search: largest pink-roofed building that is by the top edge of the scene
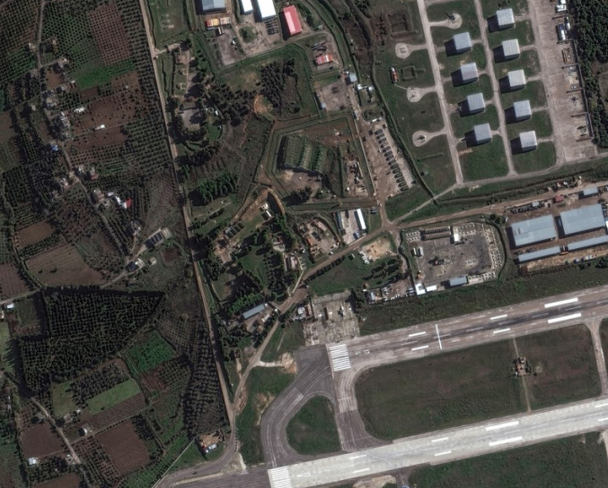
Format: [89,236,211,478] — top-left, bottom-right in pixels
[283,5,302,38]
